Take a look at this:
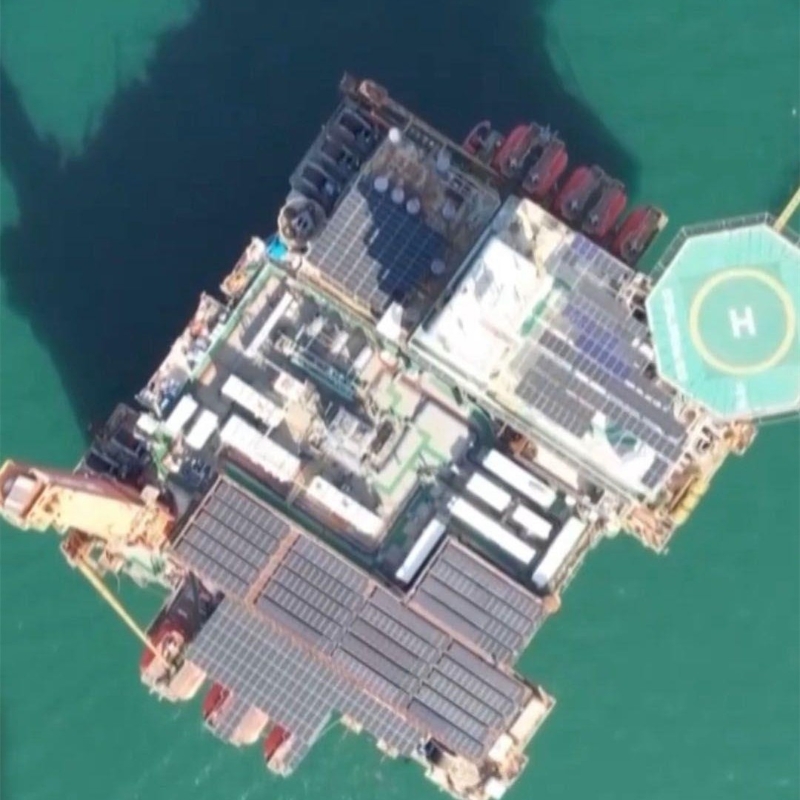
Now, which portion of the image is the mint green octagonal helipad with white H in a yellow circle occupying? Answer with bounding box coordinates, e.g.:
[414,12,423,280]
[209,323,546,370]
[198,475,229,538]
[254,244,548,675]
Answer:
[638,216,800,427]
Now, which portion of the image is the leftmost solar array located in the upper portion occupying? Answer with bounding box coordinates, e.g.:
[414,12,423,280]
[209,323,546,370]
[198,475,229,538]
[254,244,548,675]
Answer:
[303,180,455,317]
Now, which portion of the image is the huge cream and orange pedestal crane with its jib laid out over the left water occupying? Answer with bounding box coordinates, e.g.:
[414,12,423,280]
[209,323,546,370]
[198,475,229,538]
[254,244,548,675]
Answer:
[0,461,181,550]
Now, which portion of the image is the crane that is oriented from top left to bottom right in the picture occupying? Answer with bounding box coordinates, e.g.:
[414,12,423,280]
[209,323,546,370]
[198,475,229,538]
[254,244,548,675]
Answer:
[62,531,156,655]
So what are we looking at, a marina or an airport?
marina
